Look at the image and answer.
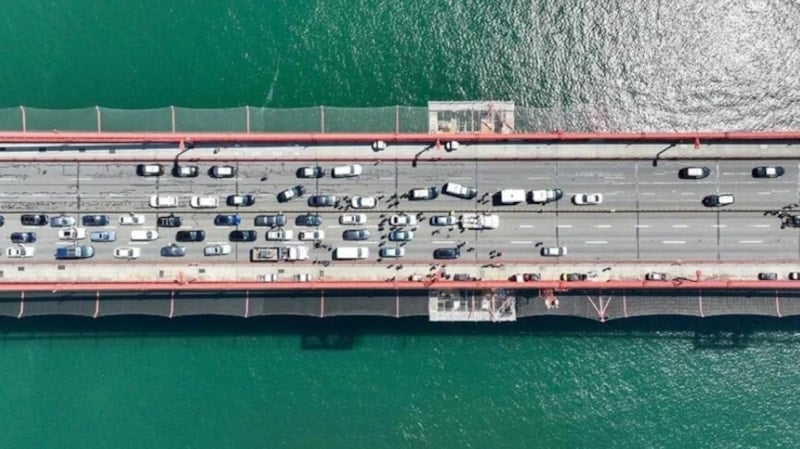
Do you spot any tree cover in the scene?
No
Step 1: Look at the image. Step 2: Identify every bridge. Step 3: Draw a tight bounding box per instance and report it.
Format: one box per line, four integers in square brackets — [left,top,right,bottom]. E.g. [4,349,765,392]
[0,106,800,322]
